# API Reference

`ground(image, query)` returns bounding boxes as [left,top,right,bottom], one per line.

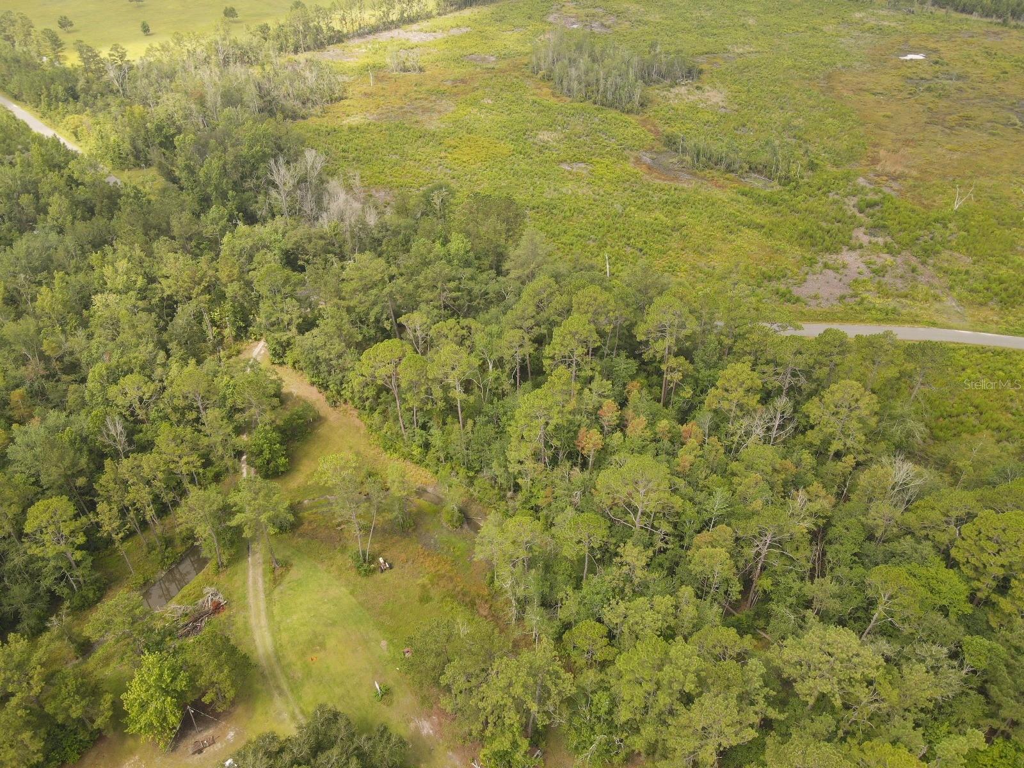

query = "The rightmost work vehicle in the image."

[374,551,391,571]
